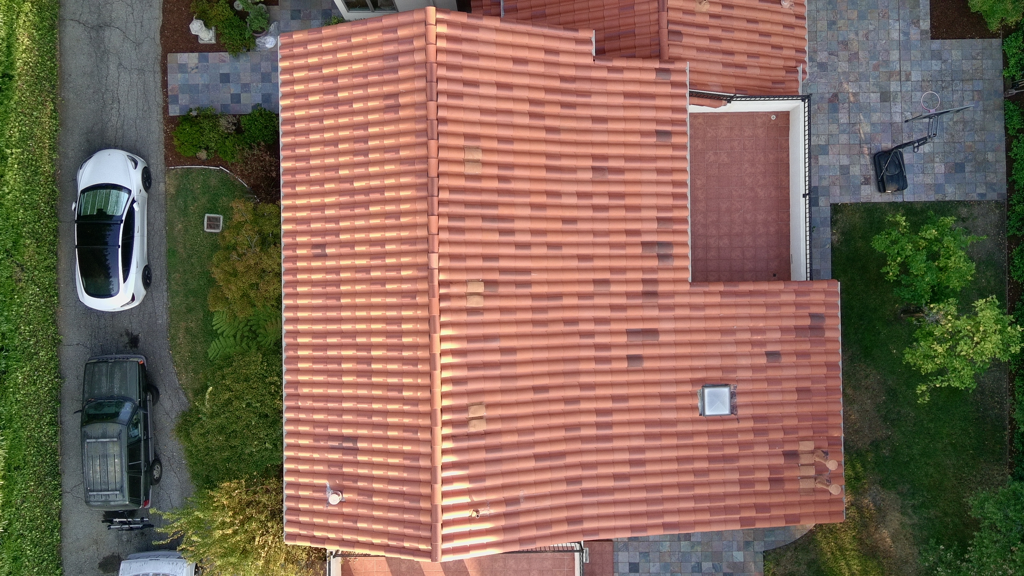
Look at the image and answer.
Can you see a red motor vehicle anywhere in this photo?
No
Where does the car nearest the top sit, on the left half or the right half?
left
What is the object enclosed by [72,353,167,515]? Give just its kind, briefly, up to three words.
car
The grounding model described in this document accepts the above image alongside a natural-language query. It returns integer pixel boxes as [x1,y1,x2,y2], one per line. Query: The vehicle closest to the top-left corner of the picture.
[71,151,158,313]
